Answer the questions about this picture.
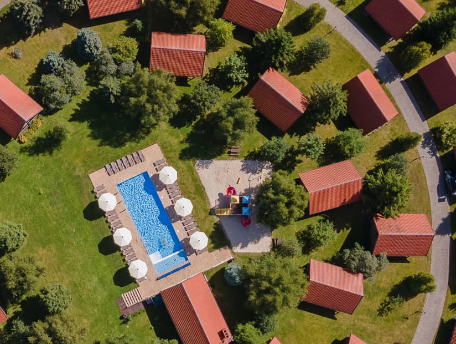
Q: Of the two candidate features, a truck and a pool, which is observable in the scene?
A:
pool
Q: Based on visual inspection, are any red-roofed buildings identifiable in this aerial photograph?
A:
Yes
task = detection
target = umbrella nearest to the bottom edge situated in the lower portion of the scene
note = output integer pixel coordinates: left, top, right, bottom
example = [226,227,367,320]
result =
[129,260,147,279]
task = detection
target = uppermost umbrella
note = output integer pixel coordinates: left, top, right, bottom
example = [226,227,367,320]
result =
[159,165,178,185]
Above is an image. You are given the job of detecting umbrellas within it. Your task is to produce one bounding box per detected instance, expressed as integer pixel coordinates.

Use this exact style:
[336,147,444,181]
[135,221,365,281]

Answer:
[189,231,208,250]
[129,260,147,279]
[98,192,116,211]
[113,228,132,246]
[175,197,192,216]
[159,165,178,185]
